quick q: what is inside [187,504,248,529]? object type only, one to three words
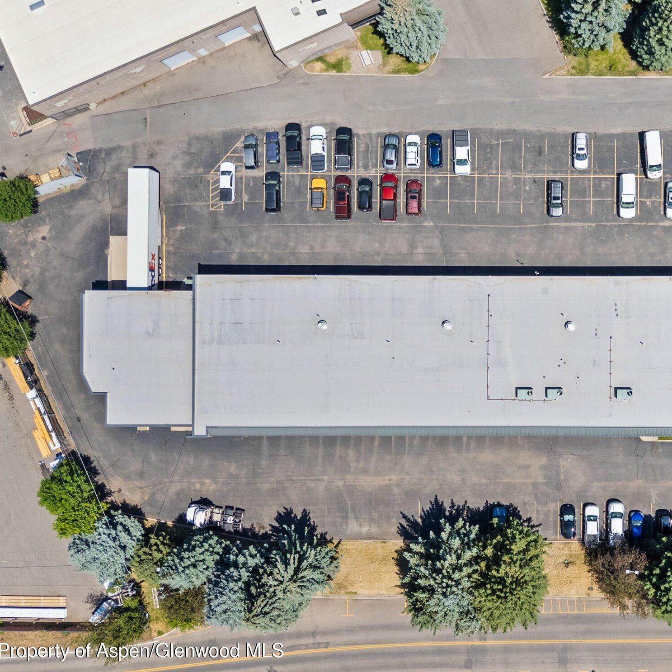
truck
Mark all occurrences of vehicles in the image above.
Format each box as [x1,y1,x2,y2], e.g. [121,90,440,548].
[618,174,637,219]
[262,173,282,213]
[334,127,354,173]
[559,503,577,539]
[405,180,423,217]
[547,180,565,219]
[241,136,261,172]
[217,162,237,205]
[606,500,627,547]
[583,504,602,548]
[645,130,665,180]
[452,130,472,176]
[263,132,282,164]
[187,504,248,529]
[356,179,374,212]
[628,510,646,542]
[307,126,328,173]
[379,174,398,223]
[404,136,422,169]
[332,176,353,222]
[572,133,590,170]
[310,179,328,211]
[284,124,304,169]
[425,133,444,168]
[381,135,400,170]
[664,182,672,220]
